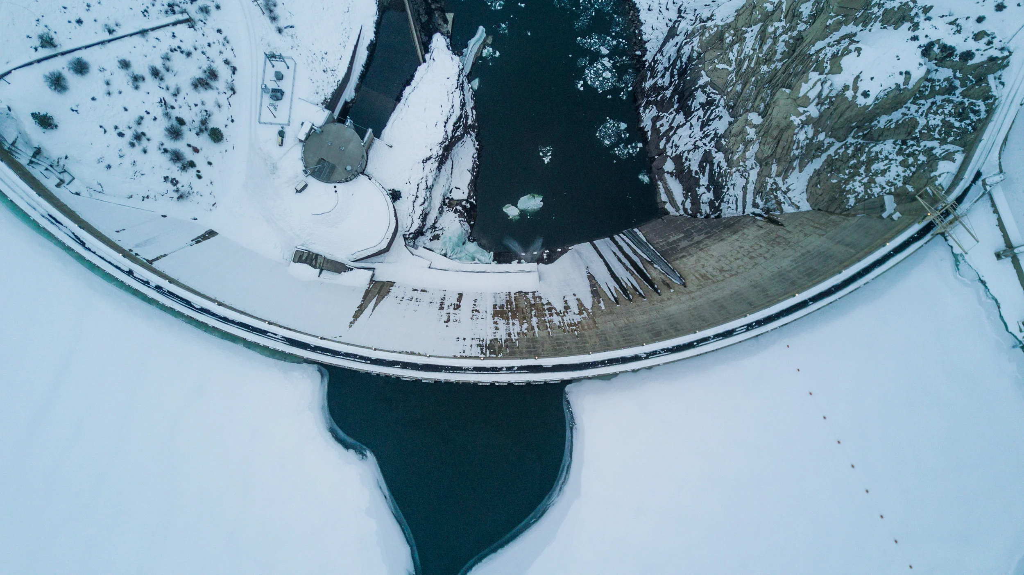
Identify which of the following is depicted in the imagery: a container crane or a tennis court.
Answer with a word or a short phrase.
container crane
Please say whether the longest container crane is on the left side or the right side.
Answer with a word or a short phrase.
right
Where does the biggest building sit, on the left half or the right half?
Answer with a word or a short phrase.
left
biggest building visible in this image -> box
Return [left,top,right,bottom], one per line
[302,121,370,186]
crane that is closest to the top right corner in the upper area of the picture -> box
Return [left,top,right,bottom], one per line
[914,185,980,254]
